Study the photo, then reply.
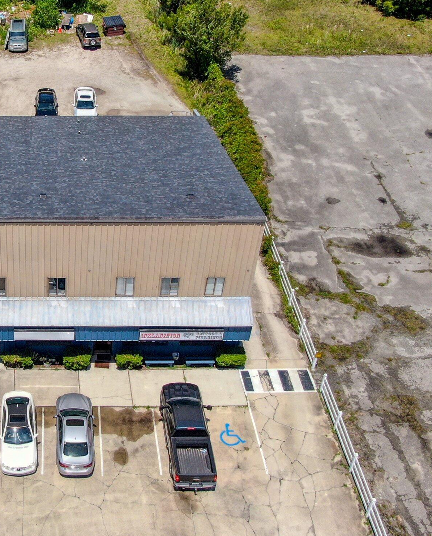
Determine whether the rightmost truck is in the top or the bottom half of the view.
bottom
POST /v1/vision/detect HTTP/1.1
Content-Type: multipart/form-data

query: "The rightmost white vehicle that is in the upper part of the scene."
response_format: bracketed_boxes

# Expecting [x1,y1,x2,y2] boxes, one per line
[72,89,98,117]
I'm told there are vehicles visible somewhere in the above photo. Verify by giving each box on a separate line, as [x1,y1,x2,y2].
[74,23,101,49]
[0,392,40,476]
[53,394,97,475]
[72,89,98,117]
[159,385,218,494]
[33,90,59,117]
[6,19,30,51]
